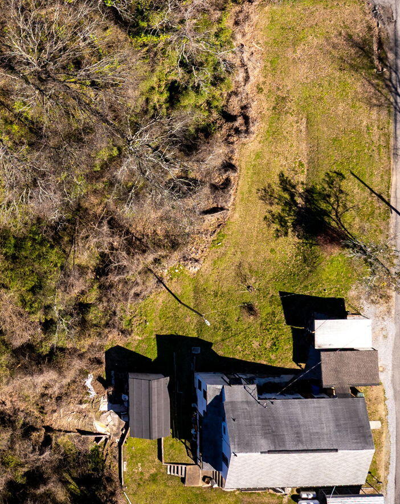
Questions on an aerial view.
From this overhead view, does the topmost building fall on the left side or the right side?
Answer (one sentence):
The topmost building is on the right side of the image.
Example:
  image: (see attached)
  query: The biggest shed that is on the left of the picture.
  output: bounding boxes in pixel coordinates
[126,371,171,439]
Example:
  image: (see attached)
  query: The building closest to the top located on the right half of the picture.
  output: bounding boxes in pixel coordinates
[304,314,372,349]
